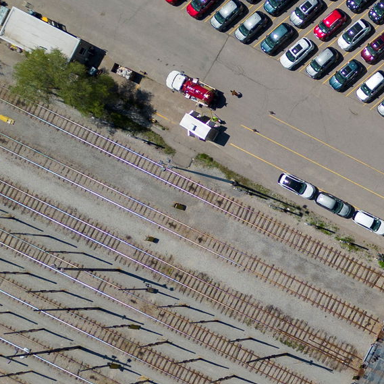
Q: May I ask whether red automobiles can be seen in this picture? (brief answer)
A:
Yes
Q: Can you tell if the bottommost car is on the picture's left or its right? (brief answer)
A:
right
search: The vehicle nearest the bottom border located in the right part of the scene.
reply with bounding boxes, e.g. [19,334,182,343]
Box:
[352,208,384,237]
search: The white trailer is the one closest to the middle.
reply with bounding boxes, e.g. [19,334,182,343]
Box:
[184,108,224,139]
